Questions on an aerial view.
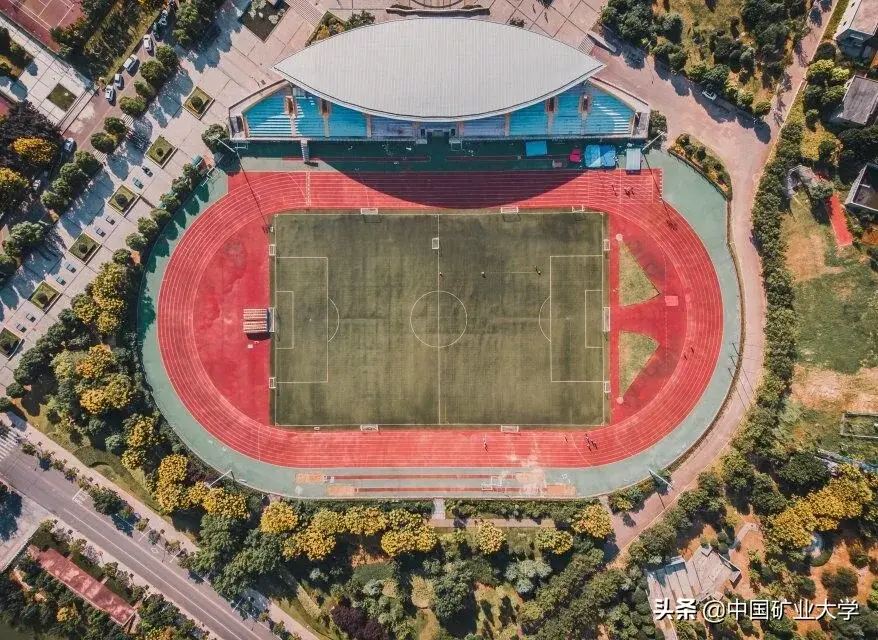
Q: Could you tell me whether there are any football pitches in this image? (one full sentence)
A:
Yes, this view includes a football pitch.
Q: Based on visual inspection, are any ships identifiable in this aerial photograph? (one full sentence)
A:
No, there appears to be no ship in this shot.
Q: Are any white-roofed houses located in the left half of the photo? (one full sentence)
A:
No, looking in the left half of the photo, there is no white-roofed house.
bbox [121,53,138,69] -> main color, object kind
white vehicle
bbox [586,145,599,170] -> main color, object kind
blue tent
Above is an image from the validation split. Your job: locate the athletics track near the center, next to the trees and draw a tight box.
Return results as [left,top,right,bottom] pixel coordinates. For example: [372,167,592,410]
[158,172,723,468]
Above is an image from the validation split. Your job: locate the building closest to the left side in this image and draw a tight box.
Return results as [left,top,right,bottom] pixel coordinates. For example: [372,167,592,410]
[29,540,143,625]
